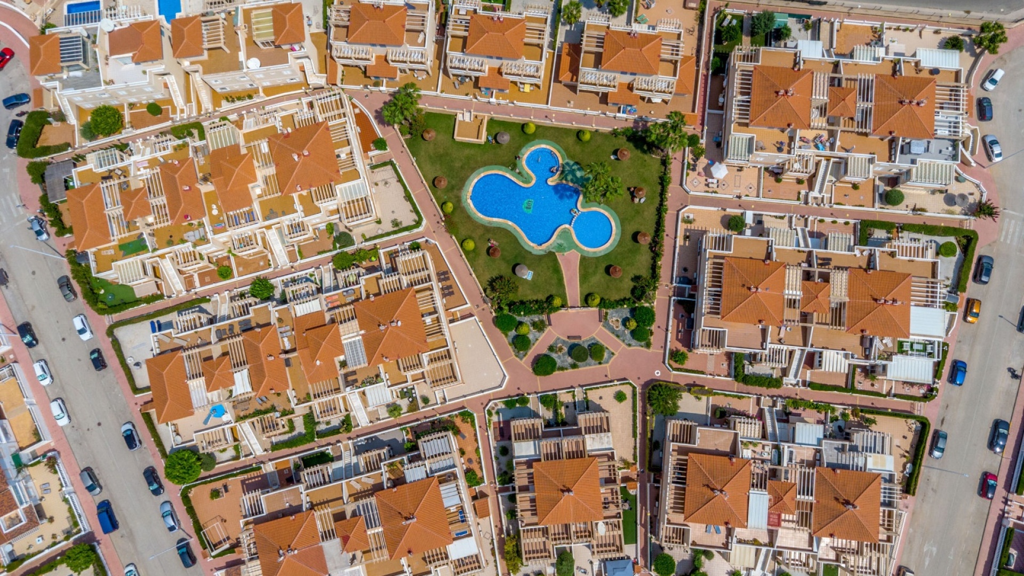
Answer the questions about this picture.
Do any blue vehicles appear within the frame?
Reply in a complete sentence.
Yes, the image includes a blue vehicle.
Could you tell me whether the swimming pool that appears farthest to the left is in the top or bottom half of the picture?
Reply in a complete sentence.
The swimming pool that appears farthest to the left is in the top half of the image.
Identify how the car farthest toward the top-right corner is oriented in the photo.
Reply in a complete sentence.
The car farthest toward the top-right corner has been laid out at an angle relative to the frame.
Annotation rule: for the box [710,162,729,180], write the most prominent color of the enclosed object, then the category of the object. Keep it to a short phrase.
white umbrella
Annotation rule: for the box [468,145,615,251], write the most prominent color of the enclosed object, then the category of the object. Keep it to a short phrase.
blue swimming pool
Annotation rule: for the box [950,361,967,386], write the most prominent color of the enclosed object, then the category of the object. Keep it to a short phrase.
blue car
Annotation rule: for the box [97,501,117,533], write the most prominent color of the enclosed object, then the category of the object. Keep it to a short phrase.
blue vehicle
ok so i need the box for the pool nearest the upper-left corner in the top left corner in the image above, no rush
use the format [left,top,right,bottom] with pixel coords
[63,0,103,28]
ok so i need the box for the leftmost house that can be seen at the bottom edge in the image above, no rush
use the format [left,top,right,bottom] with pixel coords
[0,451,49,549]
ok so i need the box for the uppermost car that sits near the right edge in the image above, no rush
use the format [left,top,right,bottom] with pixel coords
[982,68,1005,92]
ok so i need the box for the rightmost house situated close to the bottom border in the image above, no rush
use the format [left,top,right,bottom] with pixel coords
[654,410,904,576]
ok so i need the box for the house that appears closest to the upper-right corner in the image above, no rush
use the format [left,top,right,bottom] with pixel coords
[718,40,981,196]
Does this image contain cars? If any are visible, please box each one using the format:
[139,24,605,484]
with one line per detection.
[80,467,102,495]
[33,359,53,386]
[983,136,1002,161]
[162,502,180,531]
[982,68,1005,92]
[930,429,947,457]
[977,99,992,121]
[0,49,15,69]
[144,468,163,494]
[965,299,982,323]
[6,122,24,147]
[75,315,92,340]
[980,473,996,499]
[59,276,77,300]
[950,361,967,386]
[5,94,30,108]
[91,349,108,371]
[18,322,38,348]
[975,257,993,283]
[178,539,195,566]
[52,399,70,425]
[28,216,49,241]
[990,422,1008,450]
[123,424,141,449]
